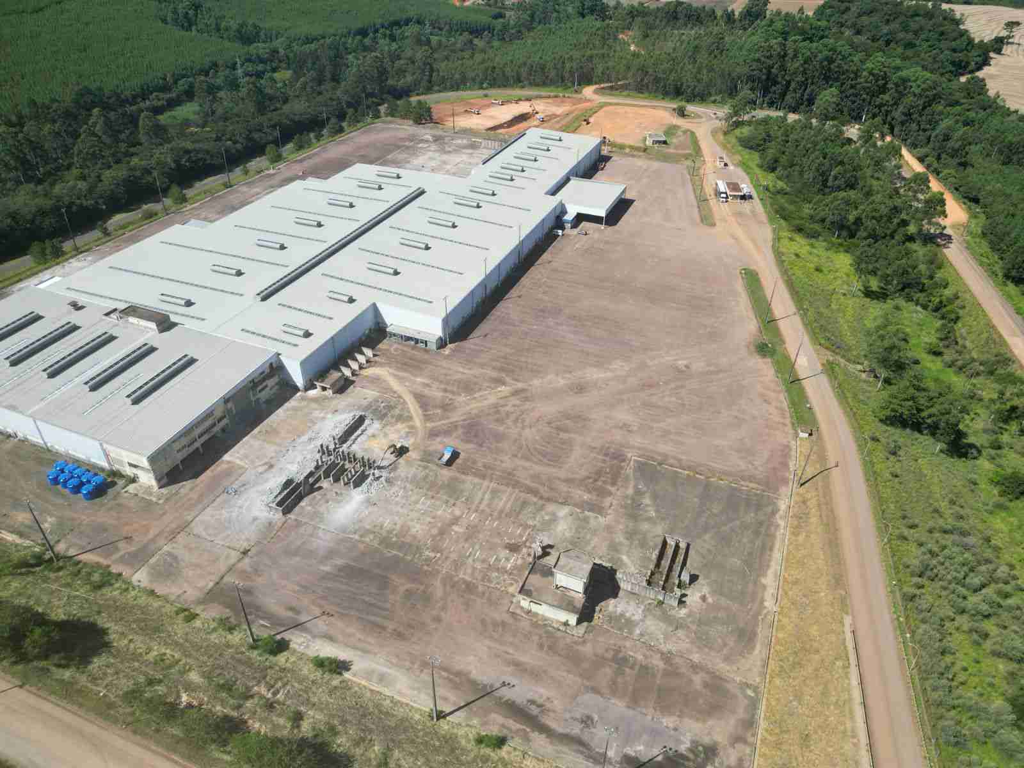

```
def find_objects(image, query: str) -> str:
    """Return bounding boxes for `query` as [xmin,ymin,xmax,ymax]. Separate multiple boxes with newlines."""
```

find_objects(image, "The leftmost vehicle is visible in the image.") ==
[378,439,413,465]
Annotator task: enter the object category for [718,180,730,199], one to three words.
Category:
vehicle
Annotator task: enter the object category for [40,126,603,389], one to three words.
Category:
building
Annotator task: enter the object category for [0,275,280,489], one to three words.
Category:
building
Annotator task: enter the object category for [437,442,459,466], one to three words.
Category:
truck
